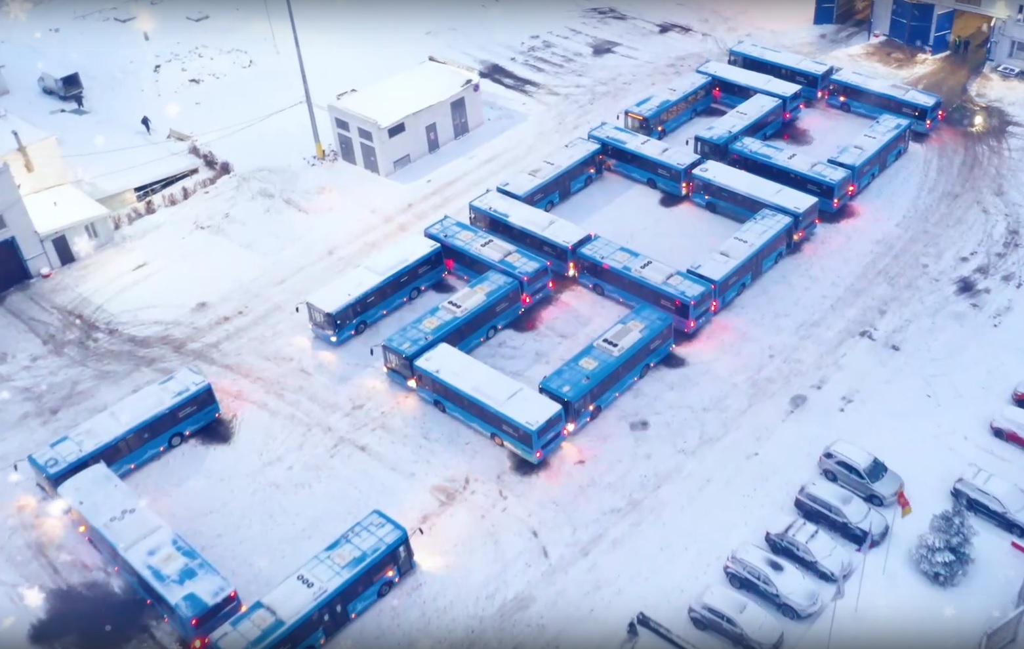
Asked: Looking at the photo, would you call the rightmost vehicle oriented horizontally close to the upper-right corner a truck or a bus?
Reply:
bus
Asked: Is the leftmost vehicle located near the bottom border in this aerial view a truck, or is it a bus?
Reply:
bus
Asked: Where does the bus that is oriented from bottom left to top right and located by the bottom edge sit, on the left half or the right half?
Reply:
left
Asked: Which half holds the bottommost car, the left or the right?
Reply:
right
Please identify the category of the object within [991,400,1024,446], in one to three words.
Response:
car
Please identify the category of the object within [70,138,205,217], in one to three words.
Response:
shed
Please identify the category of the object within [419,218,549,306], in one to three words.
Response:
bus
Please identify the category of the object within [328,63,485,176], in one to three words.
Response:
building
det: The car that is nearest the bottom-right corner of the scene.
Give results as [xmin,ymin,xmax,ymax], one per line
[952,466,1024,537]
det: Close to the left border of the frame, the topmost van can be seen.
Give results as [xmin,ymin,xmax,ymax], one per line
[36,71,81,105]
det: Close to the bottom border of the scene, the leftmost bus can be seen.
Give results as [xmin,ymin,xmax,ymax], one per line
[57,458,243,642]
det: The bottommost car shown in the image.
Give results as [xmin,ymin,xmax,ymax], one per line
[688,579,789,649]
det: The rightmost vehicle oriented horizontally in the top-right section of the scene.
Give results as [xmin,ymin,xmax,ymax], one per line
[820,69,943,129]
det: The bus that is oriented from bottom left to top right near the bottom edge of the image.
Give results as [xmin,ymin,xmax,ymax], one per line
[210,507,422,649]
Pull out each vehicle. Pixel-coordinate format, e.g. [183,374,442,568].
[19,368,216,502]
[531,306,672,429]
[688,579,789,649]
[210,507,422,649]
[952,466,1024,537]
[500,139,609,209]
[57,458,243,642]
[991,400,1024,446]
[464,189,590,272]
[767,512,859,579]
[404,340,564,458]
[796,478,893,547]
[691,61,801,119]
[618,72,711,138]
[724,42,834,96]
[569,233,713,329]
[720,136,853,209]
[820,69,943,129]
[687,94,782,164]
[725,539,821,614]
[299,238,443,341]
[826,113,918,191]
[419,218,549,306]
[818,439,911,506]
[687,208,801,308]
[36,71,81,105]
[582,123,701,192]
[374,272,519,384]
[683,159,818,238]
